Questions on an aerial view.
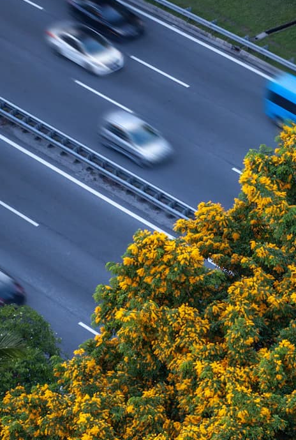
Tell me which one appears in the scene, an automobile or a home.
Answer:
automobile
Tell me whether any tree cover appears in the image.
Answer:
Yes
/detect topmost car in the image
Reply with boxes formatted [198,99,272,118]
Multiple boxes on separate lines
[68,0,142,42]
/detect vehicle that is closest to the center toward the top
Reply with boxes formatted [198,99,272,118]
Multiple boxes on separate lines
[99,112,170,167]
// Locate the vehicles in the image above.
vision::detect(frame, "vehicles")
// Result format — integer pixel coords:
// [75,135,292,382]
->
[0,266,29,311]
[45,27,120,79]
[68,0,142,42]
[99,112,170,167]
[266,73,296,122]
